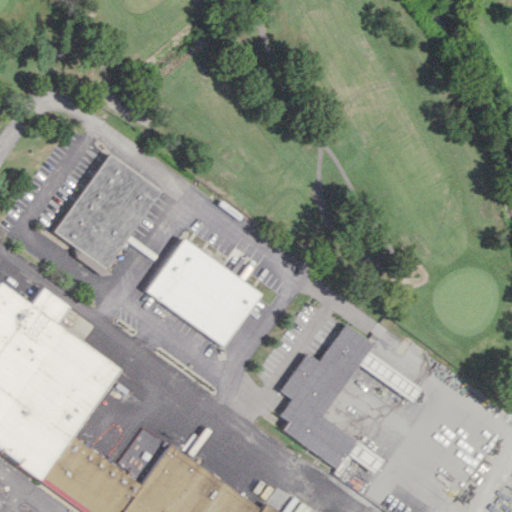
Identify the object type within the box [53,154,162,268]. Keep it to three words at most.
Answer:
building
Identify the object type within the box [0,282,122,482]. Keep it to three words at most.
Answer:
building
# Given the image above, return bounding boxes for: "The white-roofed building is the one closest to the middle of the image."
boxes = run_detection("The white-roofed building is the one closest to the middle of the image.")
[146,241,262,347]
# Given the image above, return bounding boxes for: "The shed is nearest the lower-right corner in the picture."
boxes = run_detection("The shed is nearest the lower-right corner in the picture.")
[350,443,384,474]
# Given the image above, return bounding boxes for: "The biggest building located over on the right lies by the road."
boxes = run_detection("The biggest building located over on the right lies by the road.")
[281,324,373,470]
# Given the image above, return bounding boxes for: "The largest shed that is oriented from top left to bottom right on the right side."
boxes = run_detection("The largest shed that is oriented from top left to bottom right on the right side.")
[362,352,425,403]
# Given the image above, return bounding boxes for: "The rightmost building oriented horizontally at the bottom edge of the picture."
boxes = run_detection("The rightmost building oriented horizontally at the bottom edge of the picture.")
[124,446,270,512]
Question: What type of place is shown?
golf course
